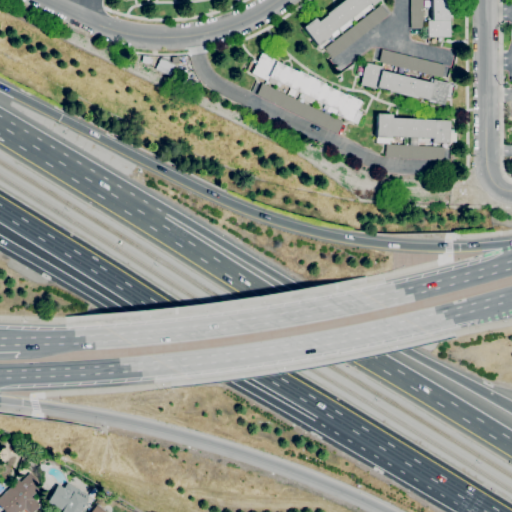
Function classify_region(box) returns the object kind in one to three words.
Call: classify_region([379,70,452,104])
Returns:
building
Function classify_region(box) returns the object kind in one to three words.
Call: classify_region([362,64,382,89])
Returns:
building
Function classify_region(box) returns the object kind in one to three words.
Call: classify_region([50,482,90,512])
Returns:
house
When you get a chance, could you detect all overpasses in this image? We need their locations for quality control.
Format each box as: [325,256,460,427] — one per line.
[0,276,512,388]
